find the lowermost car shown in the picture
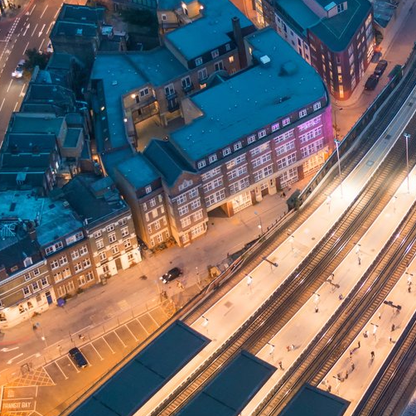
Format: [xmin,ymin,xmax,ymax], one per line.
[66,346,89,366]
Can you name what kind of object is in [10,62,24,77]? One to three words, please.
vehicle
